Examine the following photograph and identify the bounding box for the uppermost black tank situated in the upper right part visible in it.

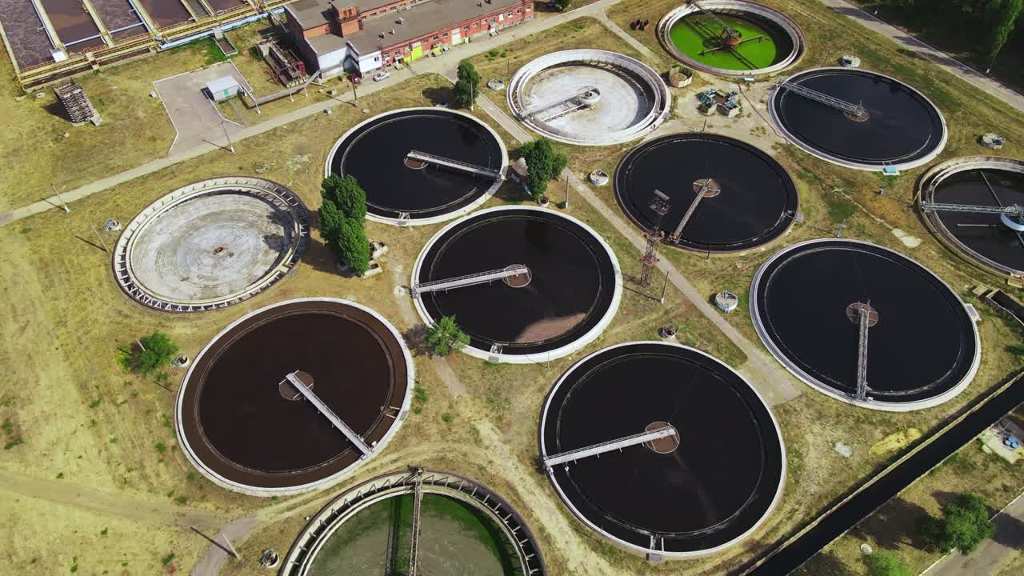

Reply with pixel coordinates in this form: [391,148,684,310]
[768,68,947,177]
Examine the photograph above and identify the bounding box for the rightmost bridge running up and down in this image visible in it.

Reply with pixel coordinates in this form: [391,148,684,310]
[853,298,872,402]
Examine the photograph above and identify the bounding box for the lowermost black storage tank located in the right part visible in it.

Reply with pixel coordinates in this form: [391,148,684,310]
[541,342,784,568]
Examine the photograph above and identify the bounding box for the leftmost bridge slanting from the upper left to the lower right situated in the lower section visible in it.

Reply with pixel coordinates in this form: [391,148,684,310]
[284,370,375,459]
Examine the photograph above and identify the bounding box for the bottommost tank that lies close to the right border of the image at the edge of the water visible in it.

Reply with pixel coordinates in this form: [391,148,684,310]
[749,240,982,414]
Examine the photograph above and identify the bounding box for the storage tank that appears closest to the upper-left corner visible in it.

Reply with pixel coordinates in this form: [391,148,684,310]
[113,176,310,314]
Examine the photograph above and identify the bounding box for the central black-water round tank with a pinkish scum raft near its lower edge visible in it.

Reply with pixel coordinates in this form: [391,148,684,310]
[412,207,622,366]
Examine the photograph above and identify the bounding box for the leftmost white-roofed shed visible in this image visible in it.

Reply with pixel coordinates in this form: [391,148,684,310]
[209,78,237,101]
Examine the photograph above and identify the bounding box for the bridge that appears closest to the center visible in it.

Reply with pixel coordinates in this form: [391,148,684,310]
[415,267,527,295]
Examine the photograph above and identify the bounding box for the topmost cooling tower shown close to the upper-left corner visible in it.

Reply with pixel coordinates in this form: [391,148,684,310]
[56,81,102,126]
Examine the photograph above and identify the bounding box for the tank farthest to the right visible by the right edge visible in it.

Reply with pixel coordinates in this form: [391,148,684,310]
[917,155,1024,293]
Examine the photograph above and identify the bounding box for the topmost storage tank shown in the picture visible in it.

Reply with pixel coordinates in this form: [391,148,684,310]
[657,0,805,81]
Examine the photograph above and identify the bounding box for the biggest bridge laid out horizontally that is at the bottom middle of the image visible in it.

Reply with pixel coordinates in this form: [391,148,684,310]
[544,427,676,469]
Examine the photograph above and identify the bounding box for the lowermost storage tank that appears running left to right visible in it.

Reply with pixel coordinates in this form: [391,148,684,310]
[278,466,548,576]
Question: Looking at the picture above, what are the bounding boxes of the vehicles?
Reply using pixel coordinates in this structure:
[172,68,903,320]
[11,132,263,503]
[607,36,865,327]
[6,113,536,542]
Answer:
[348,73,361,84]
[373,70,391,81]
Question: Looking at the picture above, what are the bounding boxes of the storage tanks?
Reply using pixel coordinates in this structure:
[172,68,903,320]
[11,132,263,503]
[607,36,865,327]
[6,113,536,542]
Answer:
[278,466,548,576]
[412,207,622,366]
[176,299,415,499]
[507,50,672,149]
[614,131,806,256]
[917,155,1024,293]
[113,176,310,314]
[768,68,947,177]
[749,240,982,414]
[325,109,508,229]
[657,0,805,81]
[541,342,784,568]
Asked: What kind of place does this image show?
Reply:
industrial area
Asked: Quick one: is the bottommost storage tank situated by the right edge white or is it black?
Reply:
black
